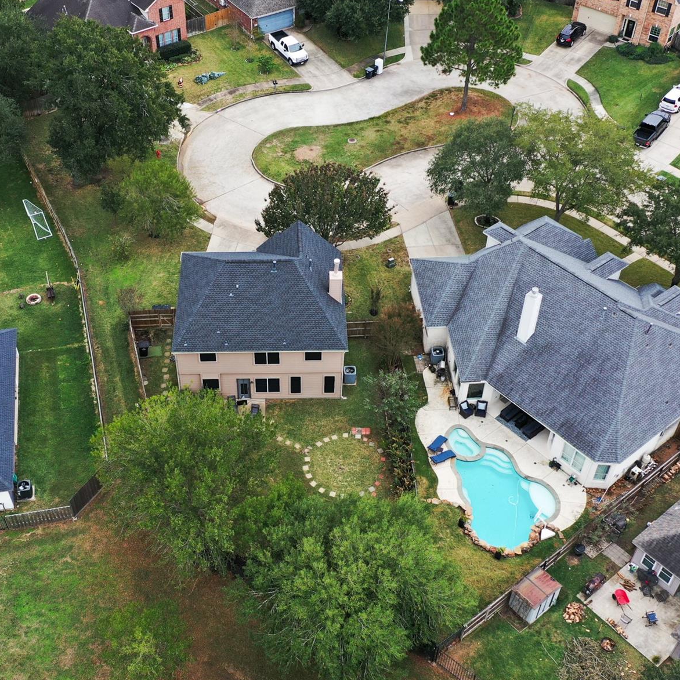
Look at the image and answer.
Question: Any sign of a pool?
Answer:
Yes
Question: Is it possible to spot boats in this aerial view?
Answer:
No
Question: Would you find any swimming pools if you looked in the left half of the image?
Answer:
No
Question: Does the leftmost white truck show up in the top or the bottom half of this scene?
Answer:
top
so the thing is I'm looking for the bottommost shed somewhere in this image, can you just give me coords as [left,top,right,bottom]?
[508,569,562,623]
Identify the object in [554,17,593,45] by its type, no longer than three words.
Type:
car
